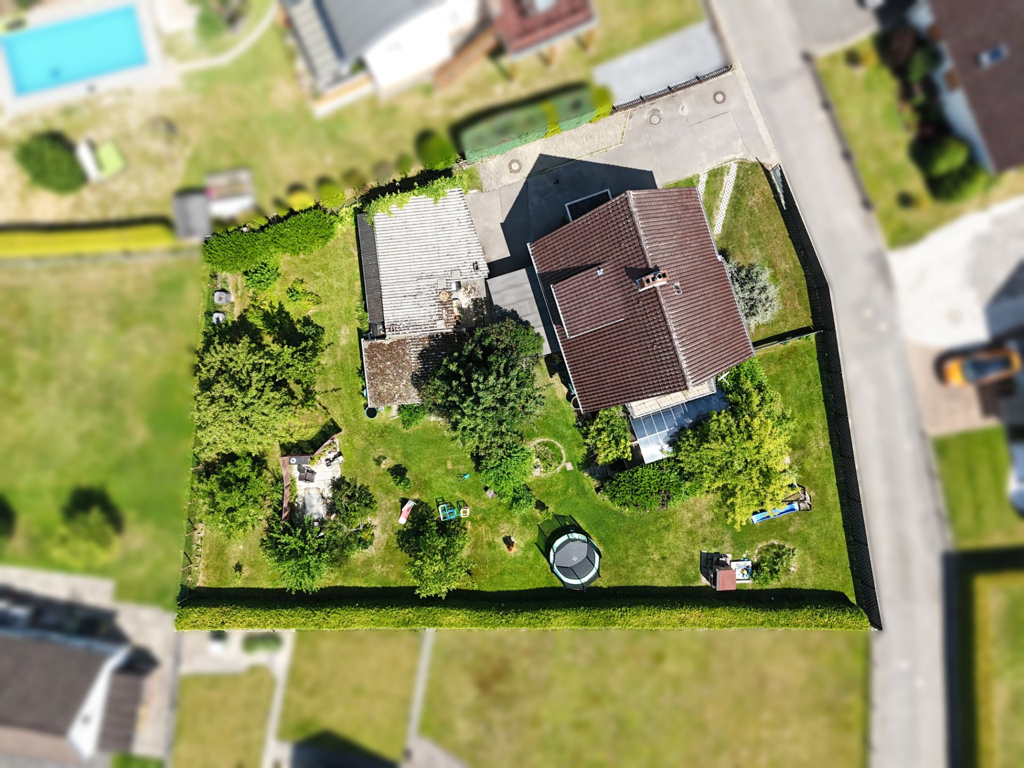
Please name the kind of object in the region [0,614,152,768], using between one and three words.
house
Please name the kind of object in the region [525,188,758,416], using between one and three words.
house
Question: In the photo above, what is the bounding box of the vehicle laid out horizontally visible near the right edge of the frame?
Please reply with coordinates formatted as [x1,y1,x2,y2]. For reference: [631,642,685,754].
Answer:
[940,346,1024,387]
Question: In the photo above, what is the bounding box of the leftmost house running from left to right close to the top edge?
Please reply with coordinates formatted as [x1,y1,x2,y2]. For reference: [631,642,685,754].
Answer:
[320,0,537,92]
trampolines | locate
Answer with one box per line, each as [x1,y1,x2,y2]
[549,523,604,593]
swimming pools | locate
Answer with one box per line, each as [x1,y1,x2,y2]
[0,0,153,103]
